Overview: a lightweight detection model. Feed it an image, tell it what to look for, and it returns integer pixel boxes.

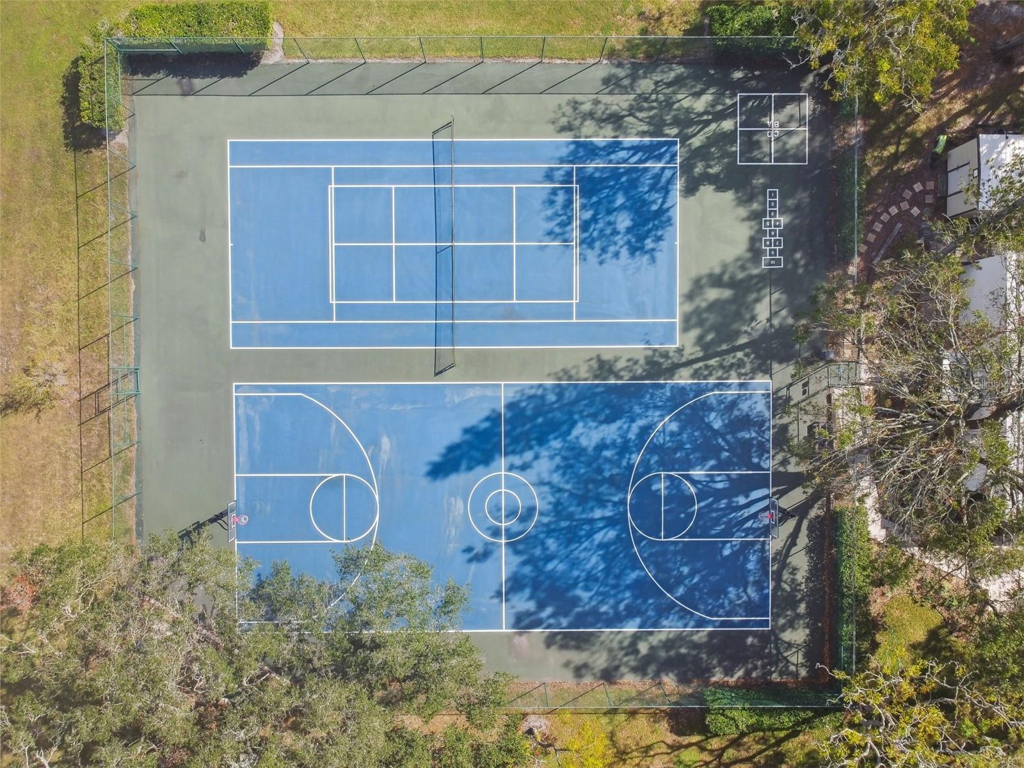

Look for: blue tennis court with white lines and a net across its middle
[228,139,679,349]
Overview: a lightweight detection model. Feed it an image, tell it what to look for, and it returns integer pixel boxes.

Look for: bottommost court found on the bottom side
[233,381,771,632]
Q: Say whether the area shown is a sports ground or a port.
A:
sports ground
